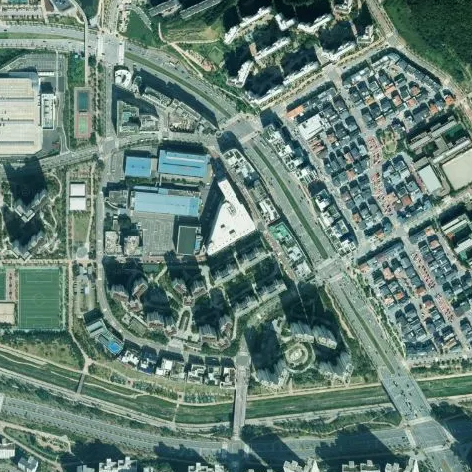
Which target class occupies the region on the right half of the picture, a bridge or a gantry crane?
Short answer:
bridge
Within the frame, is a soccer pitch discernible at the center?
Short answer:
No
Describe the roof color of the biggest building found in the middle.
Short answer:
white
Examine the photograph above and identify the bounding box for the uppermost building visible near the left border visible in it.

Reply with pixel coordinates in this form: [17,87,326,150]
[0,79,42,154]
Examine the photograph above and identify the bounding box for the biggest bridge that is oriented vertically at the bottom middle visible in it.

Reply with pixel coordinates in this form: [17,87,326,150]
[233,367,250,438]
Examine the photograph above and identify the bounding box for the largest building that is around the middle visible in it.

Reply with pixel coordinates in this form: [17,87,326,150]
[205,177,257,259]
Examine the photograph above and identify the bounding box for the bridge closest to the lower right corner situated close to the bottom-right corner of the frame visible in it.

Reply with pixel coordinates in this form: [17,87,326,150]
[379,363,433,430]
